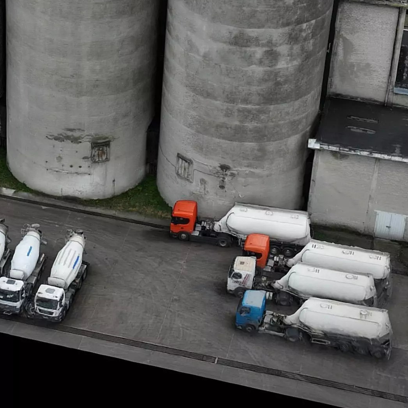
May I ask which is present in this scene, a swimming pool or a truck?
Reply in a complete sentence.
There is a truck in the scene.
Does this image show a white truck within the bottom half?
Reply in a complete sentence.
Yes, you'll find a white truck within the bottom half.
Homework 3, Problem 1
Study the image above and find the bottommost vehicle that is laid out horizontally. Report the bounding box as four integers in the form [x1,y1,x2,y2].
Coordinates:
[231,287,392,358]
